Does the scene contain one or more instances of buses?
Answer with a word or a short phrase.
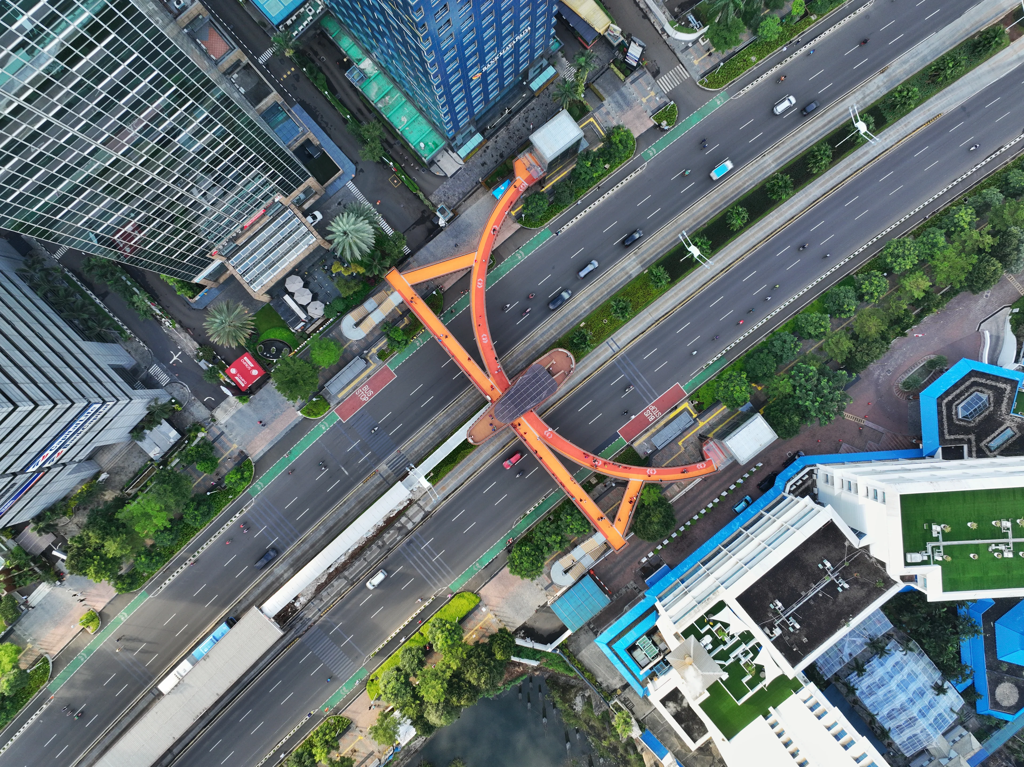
Yes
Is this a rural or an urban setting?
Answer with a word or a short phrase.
urban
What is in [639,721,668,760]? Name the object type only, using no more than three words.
shed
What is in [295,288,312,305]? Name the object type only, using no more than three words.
umbrella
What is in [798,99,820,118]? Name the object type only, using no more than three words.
car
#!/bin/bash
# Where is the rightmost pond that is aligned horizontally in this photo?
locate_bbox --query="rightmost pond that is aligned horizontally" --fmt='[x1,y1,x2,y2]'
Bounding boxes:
[391,677,600,767]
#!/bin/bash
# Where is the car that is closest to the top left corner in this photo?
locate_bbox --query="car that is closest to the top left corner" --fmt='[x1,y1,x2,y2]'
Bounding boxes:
[306,207,326,227]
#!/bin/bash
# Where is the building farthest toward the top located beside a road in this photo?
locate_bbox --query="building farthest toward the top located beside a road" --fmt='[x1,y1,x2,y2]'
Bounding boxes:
[558,0,612,49]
